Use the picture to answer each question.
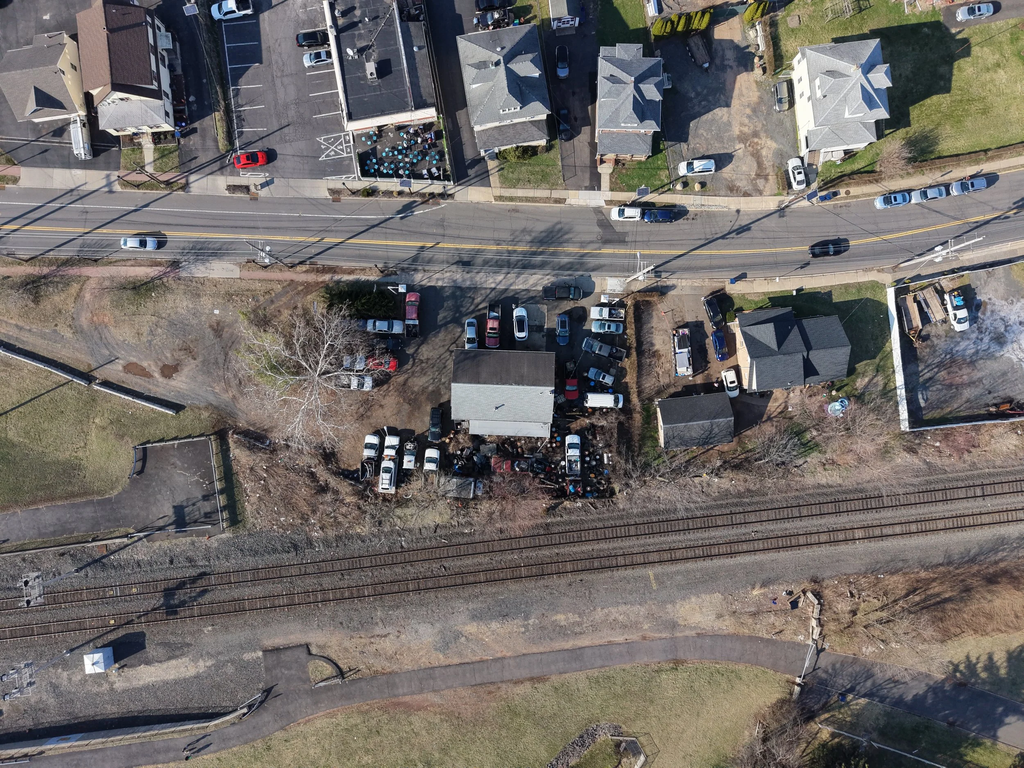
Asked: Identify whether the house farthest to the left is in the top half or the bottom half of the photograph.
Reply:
top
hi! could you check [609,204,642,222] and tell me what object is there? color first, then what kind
white car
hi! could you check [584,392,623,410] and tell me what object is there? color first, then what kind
white vehicle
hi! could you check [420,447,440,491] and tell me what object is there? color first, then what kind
white vehicle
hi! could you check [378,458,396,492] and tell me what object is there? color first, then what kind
white car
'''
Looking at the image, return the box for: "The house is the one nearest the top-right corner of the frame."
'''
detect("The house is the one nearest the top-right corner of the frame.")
[785,38,892,174]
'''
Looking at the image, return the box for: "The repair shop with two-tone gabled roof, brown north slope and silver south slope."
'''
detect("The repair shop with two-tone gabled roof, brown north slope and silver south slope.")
[451,349,555,438]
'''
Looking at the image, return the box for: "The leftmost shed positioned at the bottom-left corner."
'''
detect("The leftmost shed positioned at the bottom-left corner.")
[84,647,114,674]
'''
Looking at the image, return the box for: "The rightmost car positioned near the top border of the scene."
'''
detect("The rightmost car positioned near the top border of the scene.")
[953,2,996,25]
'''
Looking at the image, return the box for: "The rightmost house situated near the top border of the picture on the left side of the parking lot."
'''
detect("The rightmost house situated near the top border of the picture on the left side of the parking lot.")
[75,0,182,146]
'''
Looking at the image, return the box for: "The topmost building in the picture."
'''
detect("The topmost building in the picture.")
[548,0,578,35]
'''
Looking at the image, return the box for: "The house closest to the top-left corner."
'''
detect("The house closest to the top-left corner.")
[0,32,88,128]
